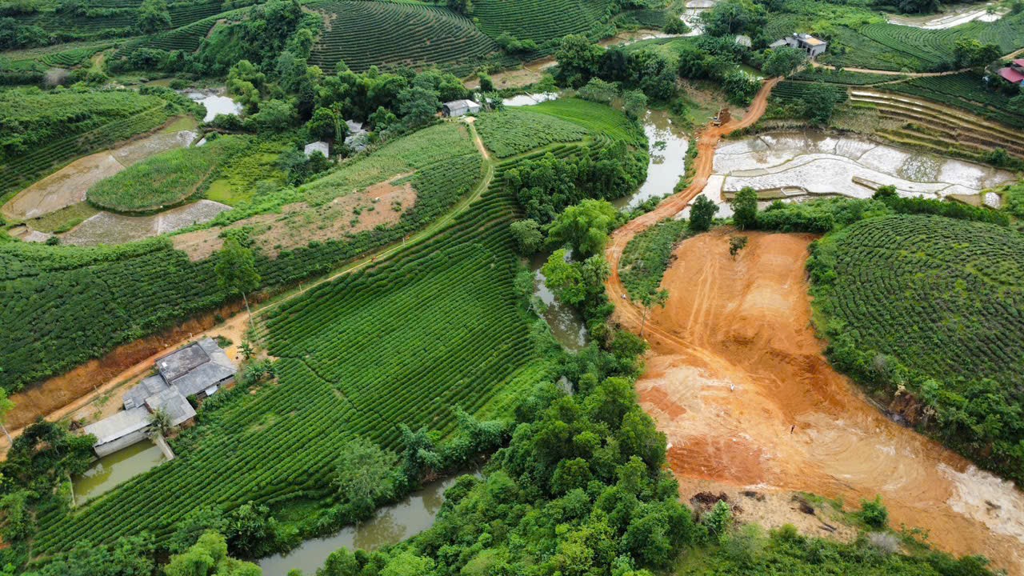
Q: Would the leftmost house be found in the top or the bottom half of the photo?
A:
bottom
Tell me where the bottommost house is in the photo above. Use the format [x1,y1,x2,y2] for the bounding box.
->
[85,338,238,460]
